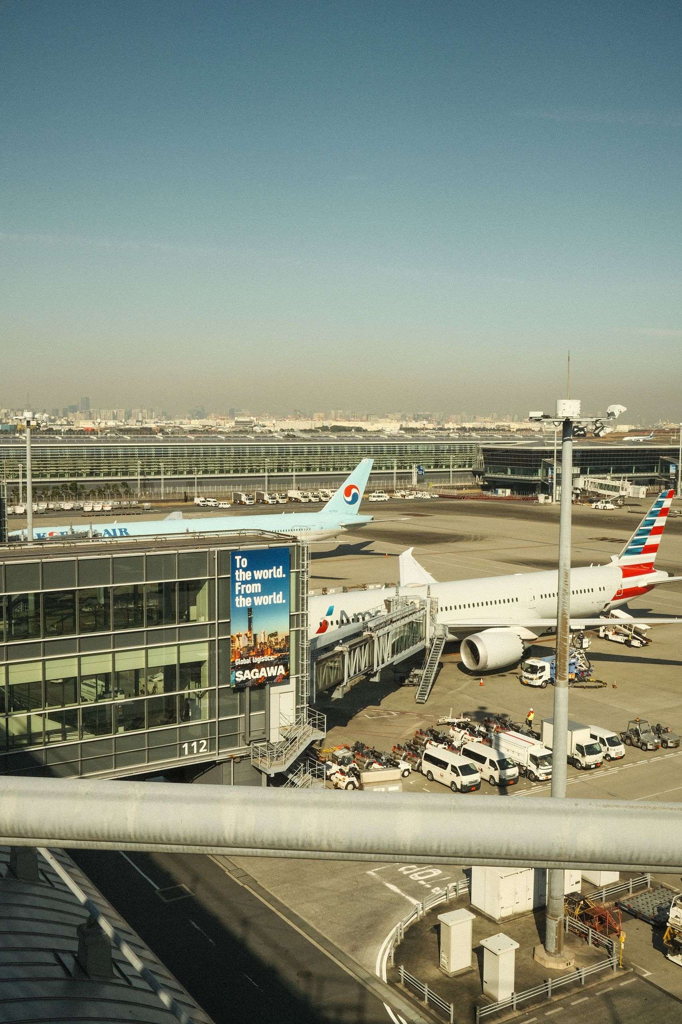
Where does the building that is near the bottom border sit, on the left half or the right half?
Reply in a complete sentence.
The building that is near the bottom border sits on the left side.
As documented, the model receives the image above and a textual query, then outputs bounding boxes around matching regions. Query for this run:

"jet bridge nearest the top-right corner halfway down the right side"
[570,475,642,507]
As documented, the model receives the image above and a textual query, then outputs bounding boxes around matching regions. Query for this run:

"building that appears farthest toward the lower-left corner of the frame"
[0,852,216,1024]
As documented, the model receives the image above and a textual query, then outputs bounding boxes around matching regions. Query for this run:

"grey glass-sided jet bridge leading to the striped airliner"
[299,581,447,708]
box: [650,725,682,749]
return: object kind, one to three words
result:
work vehicle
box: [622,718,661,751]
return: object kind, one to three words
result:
work vehicle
